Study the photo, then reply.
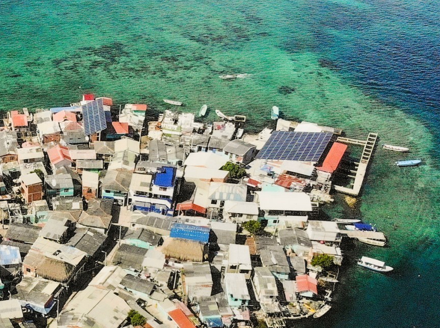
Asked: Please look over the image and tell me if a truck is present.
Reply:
No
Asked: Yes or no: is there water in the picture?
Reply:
Yes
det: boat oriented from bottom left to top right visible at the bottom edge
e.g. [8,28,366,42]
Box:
[313,303,335,318]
